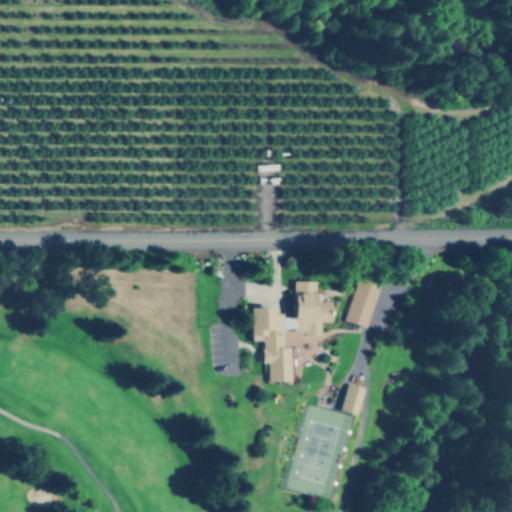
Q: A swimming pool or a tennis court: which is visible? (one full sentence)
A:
This aerial view contains a tennis court.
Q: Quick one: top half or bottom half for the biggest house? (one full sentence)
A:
The biggest house is in the bottom half of the image.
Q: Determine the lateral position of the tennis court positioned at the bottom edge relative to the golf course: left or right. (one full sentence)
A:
From the viewer's perspective, the tennis court positioned at the bottom edge falls to the right of the golf course.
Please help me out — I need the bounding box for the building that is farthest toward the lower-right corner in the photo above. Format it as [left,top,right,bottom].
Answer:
[342,384,367,416]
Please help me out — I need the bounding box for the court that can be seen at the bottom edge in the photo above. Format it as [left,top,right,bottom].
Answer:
[282,404,354,498]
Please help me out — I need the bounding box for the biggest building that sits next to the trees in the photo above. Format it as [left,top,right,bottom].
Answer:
[254,282,338,384]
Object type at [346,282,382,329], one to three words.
building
